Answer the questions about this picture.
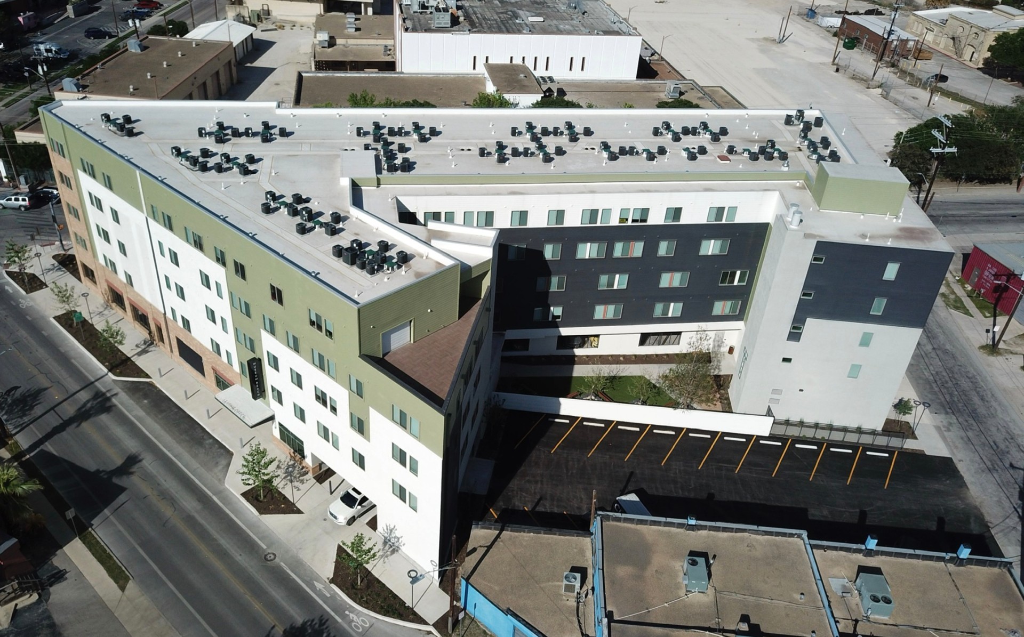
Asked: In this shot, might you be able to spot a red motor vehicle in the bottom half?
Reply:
No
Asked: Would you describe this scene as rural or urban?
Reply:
urban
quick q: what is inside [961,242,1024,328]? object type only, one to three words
shed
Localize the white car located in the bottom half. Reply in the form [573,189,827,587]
[327,488,375,529]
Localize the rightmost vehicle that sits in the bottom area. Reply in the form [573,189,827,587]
[610,495,650,516]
